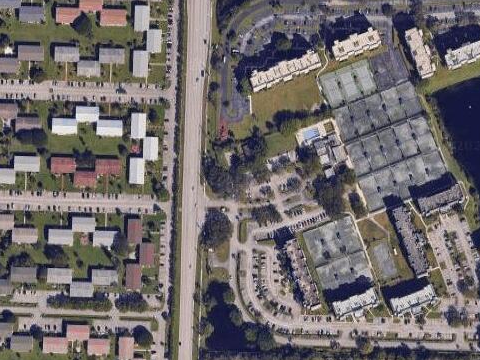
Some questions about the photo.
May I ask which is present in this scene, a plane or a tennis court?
tennis court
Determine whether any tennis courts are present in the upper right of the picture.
Yes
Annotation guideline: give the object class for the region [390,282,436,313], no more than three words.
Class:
building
